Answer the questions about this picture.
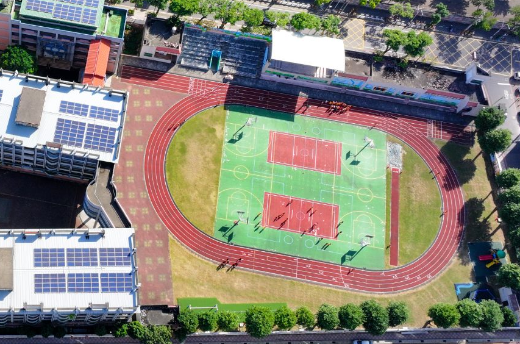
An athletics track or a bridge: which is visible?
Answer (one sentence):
It is an athletics track that can be seen here.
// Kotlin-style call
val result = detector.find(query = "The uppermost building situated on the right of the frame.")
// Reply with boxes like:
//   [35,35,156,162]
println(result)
[459,64,490,89]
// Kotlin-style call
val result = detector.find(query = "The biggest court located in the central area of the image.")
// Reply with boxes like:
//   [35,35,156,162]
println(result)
[213,106,387,267]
